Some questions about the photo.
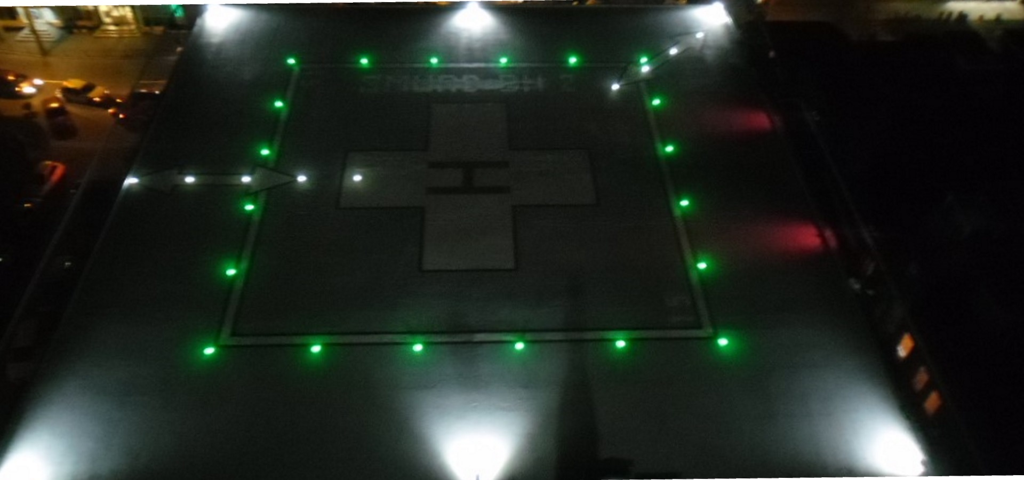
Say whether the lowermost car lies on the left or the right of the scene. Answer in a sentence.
The lowermost car sits on the left side.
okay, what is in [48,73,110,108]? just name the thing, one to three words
car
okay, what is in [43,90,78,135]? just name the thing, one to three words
car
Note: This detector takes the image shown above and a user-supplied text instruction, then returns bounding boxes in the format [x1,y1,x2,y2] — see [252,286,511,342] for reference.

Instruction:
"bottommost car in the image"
[11,164,72,214]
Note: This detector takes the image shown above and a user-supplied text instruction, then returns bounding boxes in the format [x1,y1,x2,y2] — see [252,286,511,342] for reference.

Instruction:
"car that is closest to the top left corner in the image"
[0,65,44,99]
